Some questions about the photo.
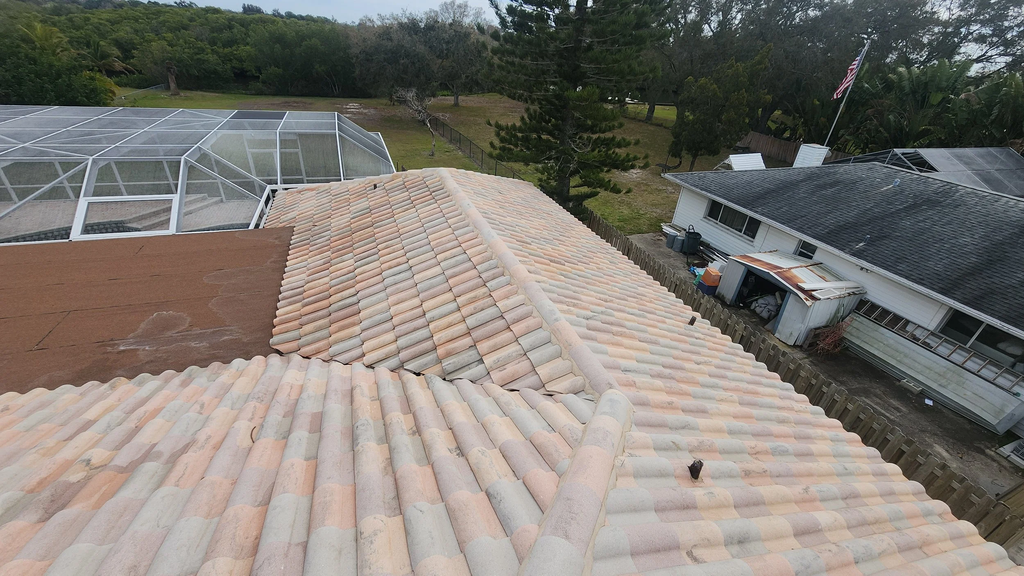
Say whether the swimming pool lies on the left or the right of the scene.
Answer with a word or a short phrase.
left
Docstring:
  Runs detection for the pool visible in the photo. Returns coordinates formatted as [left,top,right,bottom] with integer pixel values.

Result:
[0,202,239,242]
